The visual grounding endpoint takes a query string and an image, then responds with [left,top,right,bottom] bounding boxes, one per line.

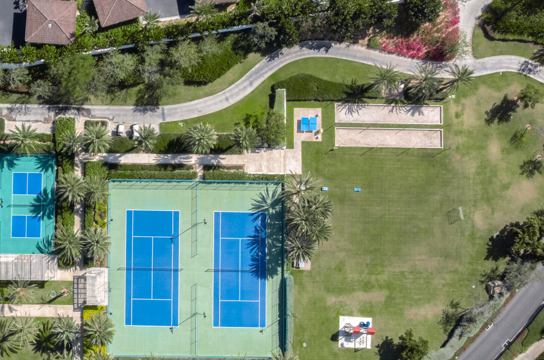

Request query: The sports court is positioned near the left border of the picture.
[0,154,55,254]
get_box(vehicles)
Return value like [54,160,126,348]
[131,123,140,137]
[117,123,125,136]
